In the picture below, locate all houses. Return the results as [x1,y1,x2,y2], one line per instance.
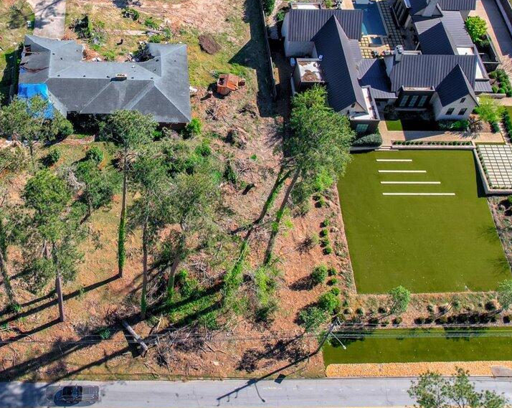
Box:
[278,0,494,135]
[16,35,190,131]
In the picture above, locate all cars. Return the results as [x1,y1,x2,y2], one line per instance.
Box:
[57,384,97,405]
